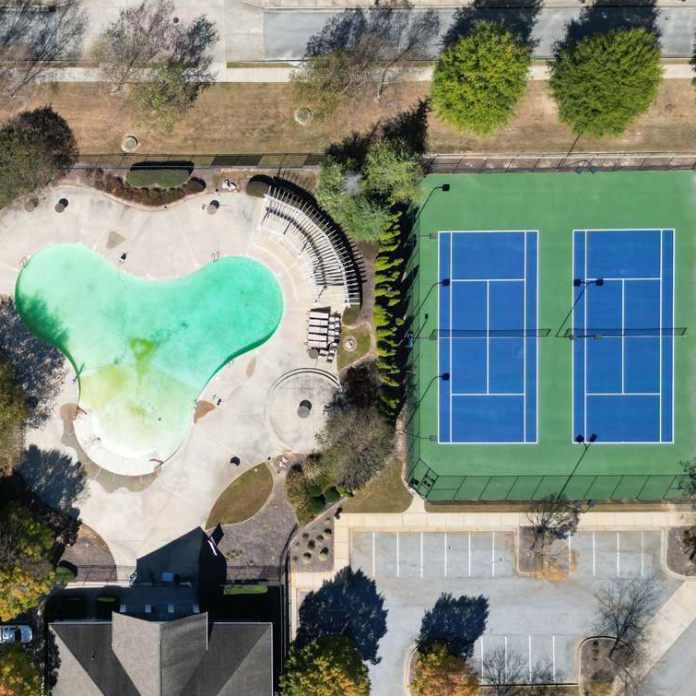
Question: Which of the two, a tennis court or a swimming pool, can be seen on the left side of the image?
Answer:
swimming pool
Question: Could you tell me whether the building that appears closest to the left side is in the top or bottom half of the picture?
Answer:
bottom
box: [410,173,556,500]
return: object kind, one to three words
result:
tennis court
